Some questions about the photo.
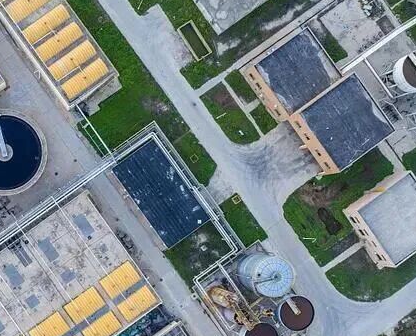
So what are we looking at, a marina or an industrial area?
industrial area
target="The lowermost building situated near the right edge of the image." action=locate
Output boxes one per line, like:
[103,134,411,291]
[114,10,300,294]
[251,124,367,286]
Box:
[341,173,416,267]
